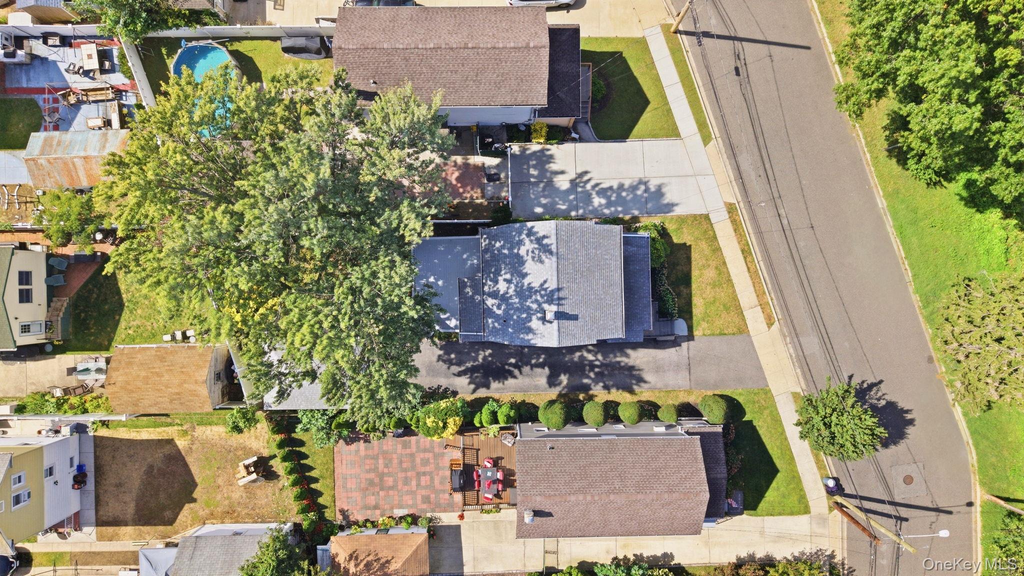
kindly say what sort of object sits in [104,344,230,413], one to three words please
building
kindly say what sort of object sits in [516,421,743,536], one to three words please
house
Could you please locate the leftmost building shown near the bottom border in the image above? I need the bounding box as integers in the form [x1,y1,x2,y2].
[0,434,95,549]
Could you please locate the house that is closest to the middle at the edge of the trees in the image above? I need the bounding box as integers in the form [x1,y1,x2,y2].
[412,222,688,344]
